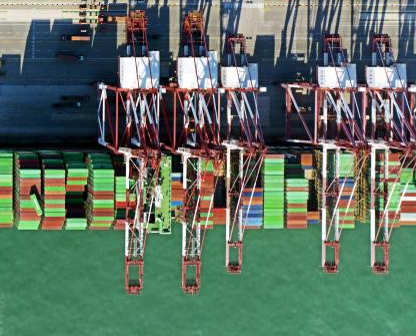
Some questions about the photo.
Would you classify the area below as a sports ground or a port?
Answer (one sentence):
This looks like a port.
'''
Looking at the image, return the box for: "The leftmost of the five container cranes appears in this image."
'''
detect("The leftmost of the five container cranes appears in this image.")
[89,9,168,298]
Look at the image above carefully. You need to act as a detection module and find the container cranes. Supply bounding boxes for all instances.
[89,9,168,298]
[269,28,374,276]
[318,28,416,276]
[187,28,269,276]
[151,9,228,298]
